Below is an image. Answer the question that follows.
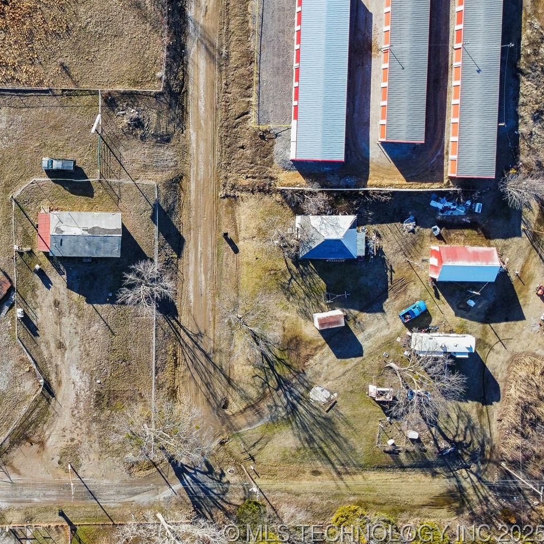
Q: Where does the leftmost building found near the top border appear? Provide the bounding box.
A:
[287,0,350,162]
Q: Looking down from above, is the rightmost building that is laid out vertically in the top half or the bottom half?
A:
top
